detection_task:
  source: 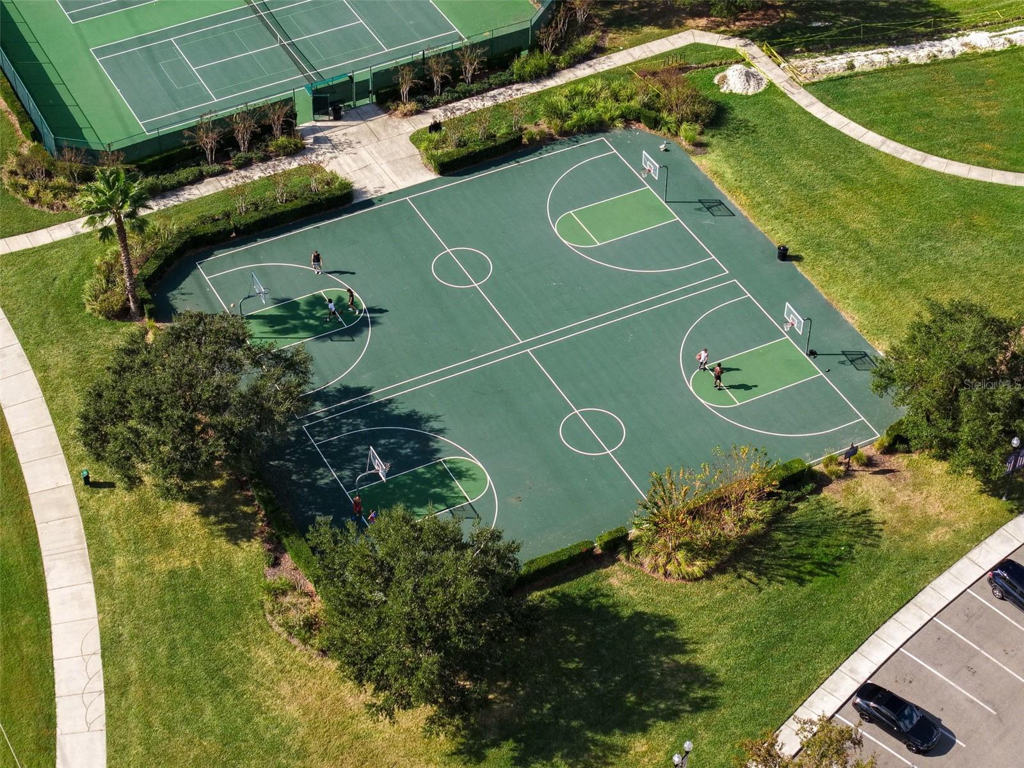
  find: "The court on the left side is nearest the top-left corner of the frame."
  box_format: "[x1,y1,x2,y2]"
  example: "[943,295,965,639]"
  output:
[57,0,160,23]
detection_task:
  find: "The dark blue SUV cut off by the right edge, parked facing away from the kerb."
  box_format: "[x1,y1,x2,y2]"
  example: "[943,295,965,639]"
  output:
[989,560,1024,611]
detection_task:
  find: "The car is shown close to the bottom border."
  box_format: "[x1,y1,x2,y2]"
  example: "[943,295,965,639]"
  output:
[854,683,952,757]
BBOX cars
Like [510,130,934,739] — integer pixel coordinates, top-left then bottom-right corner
[854,683,952,757]
[989,560,1024,611]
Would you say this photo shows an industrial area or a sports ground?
sports ground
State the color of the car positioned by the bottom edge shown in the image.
black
